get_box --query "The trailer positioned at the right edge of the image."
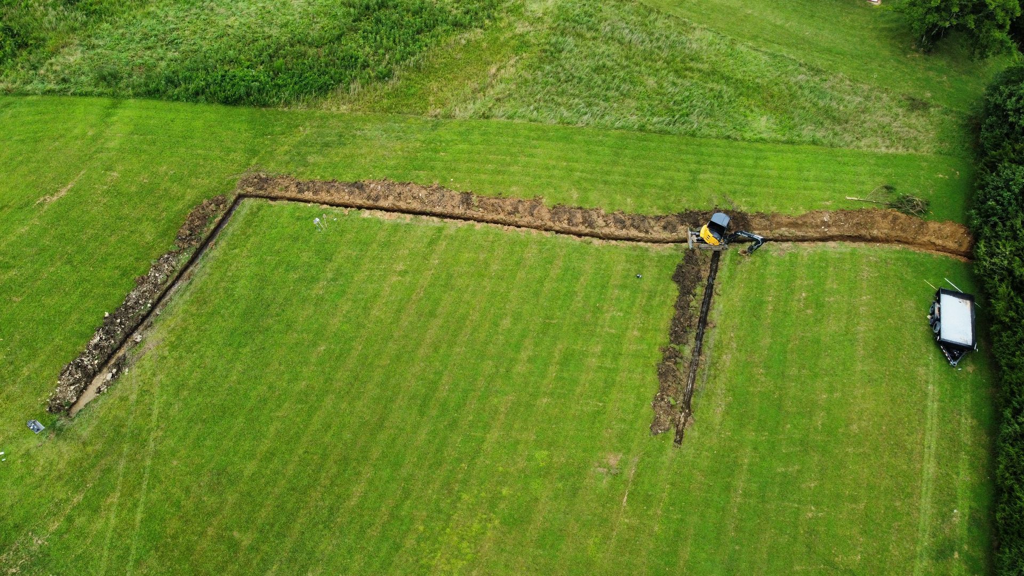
[926,288,978,368]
